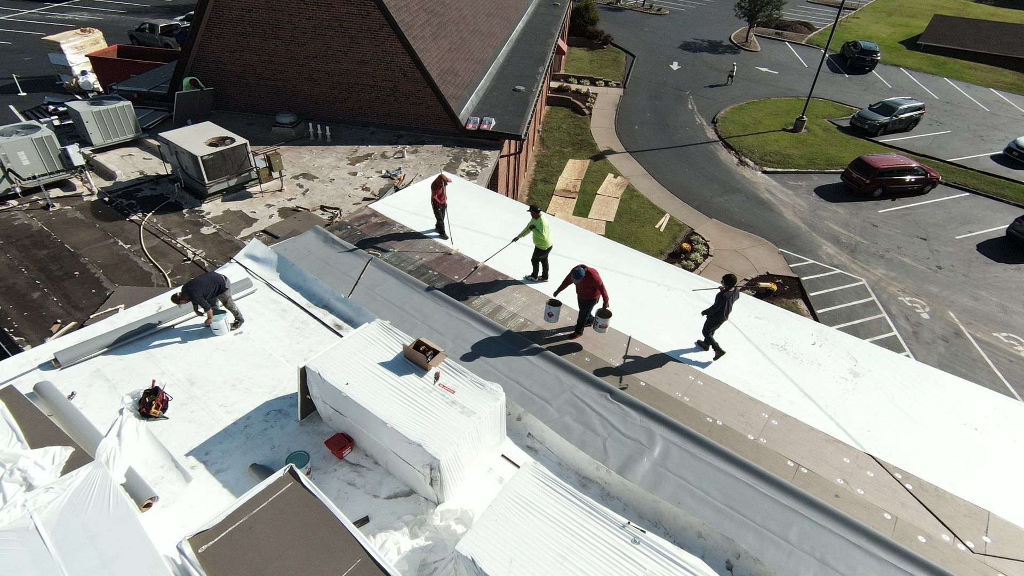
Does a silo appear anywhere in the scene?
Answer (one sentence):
No, I can see no silo in this picture.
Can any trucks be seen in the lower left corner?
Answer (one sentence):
No, looking in the lower left corner, there is no truck.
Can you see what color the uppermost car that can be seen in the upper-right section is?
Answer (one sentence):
The uppermost car that can be seen in the upper-right section is black.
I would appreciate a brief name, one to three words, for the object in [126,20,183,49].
truck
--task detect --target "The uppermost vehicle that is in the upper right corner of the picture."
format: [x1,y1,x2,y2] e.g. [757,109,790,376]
[842,43,880,68]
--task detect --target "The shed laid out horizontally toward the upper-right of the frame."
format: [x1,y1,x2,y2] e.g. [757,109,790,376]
[915,14,1024,72]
